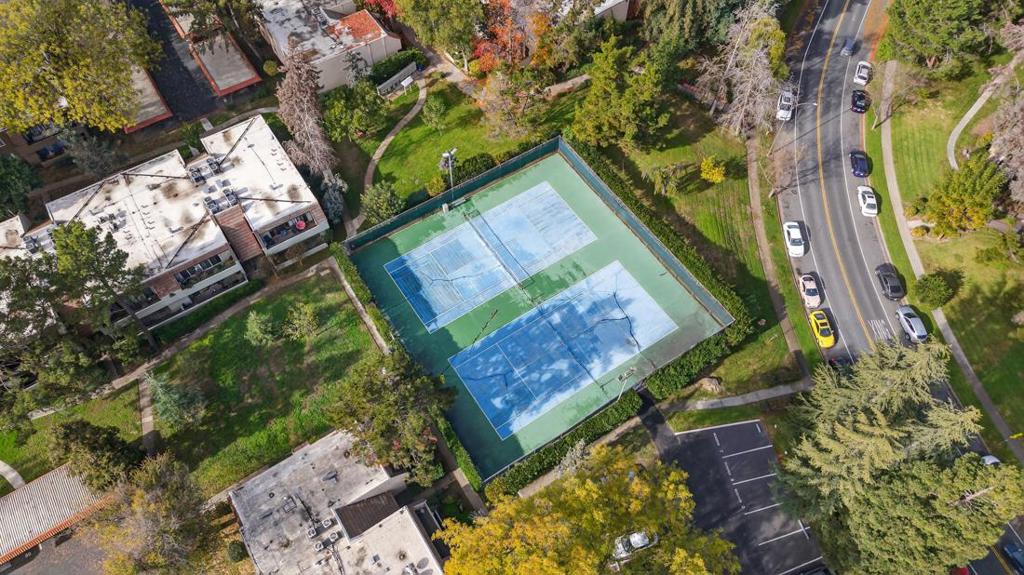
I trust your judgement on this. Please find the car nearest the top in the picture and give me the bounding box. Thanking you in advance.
[838,36,860,59]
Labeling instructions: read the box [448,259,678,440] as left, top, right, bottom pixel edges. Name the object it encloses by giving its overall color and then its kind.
blue tennis court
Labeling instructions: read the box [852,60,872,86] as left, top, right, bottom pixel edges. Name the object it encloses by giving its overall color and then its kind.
white car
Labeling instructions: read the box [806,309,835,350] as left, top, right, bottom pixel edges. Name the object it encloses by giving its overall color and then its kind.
yellow car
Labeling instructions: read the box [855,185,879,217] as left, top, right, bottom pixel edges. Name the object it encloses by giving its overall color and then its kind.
white car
